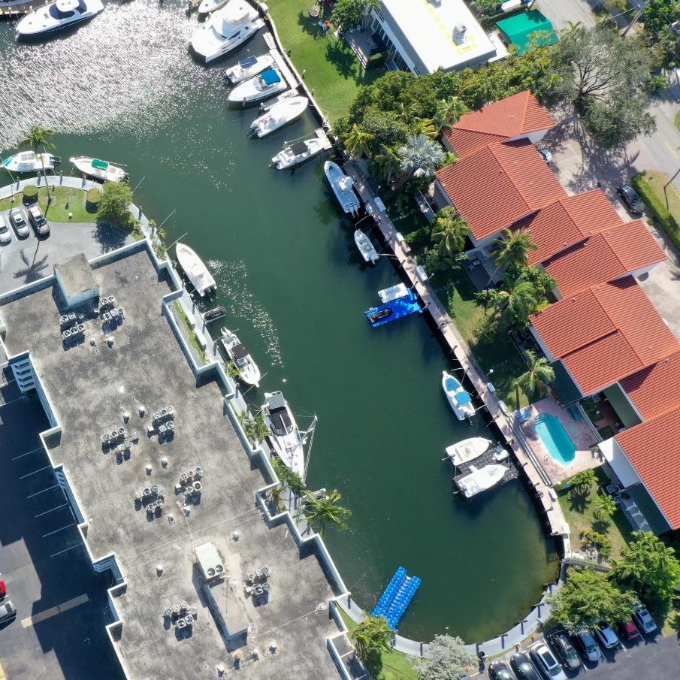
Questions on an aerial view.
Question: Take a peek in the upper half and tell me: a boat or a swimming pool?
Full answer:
It is a boat that can be seen in the upper half.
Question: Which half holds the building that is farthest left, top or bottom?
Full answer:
It is in the bottom half that the building that is farthest left appears.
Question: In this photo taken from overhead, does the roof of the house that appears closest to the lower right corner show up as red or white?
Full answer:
The color of the roof of the house that appears closest to the lower right corner is red.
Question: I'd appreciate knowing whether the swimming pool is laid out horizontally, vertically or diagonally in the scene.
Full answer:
In this picture, the swimming pool lies diagonally.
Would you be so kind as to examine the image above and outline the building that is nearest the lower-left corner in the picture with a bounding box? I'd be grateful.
[0,237,376,680]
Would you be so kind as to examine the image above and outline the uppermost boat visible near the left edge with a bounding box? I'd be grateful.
[16,0,110,36]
